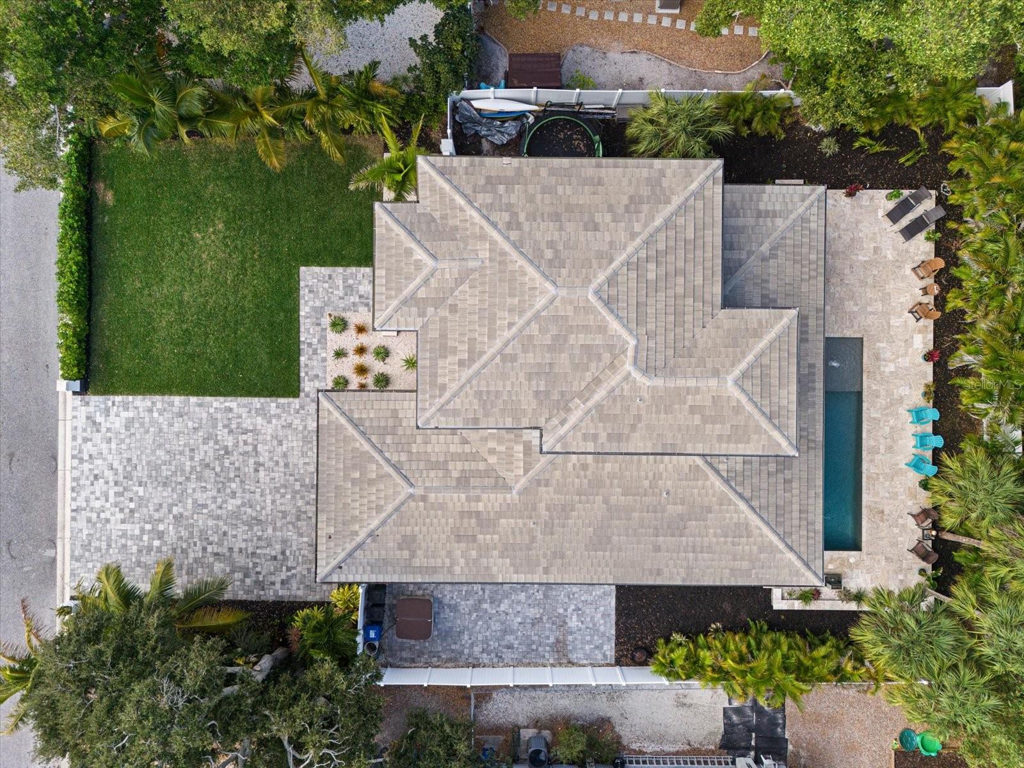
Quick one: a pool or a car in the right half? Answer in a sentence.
Visible in the right half is a pool.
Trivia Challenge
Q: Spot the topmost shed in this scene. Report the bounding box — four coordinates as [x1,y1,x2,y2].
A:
[509,54,561,88]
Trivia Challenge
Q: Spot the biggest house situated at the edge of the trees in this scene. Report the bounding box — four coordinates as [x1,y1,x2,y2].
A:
[315,154,828,586]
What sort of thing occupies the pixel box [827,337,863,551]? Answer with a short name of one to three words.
swimming pool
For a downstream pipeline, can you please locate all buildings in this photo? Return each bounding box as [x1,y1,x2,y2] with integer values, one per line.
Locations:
[315,154,828,586]
[509,54,561,88]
